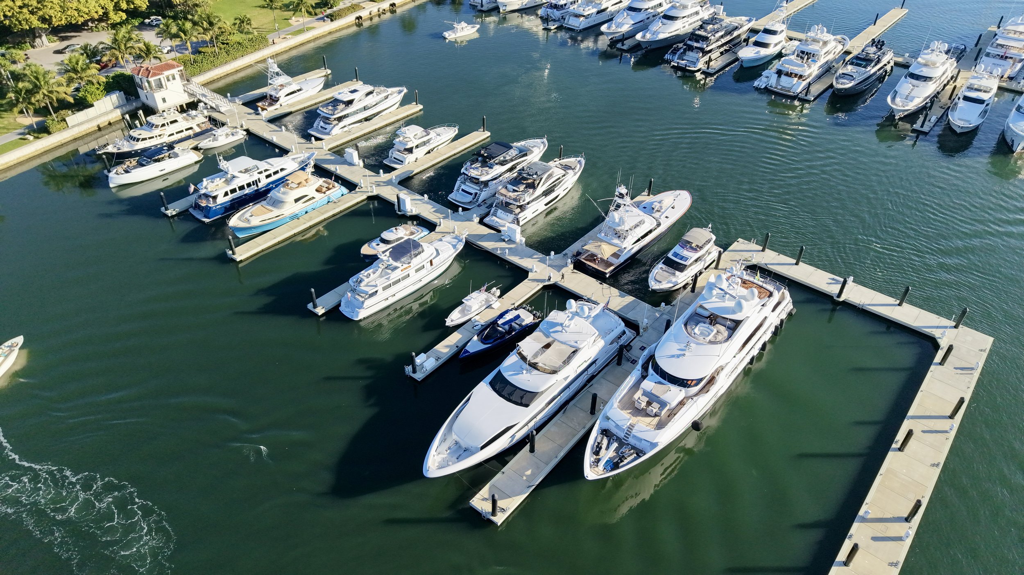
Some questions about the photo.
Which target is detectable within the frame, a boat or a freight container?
boat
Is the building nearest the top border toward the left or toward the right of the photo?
left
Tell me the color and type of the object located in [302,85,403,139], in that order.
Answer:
white boat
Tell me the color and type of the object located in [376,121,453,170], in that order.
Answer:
white boat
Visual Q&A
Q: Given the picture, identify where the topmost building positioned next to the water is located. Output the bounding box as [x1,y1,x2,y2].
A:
[129,60,200,112]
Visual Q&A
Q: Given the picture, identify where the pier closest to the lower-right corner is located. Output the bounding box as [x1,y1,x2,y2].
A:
[829,339,987,575]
